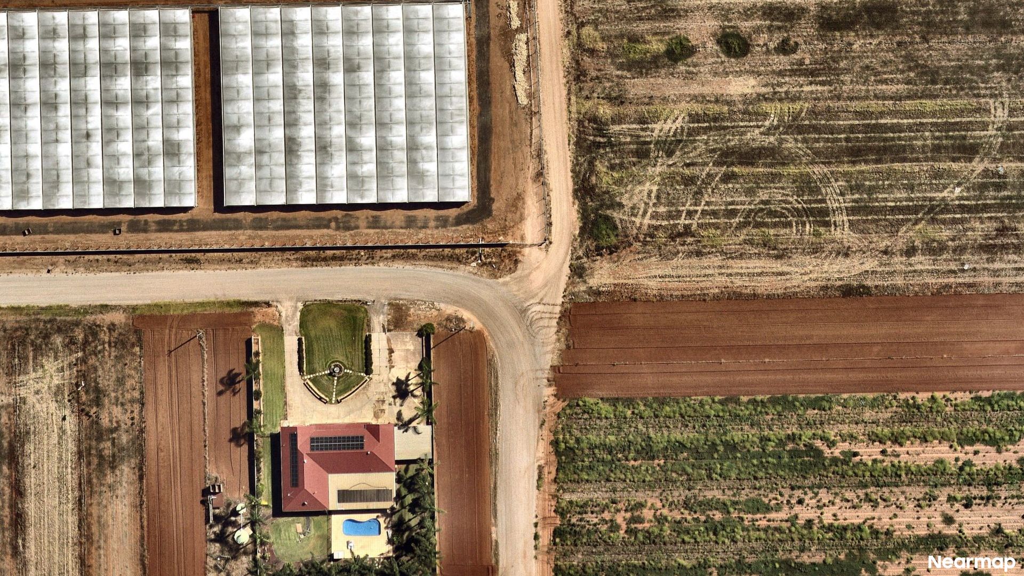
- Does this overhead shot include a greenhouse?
Yes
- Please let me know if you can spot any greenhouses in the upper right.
No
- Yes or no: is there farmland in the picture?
Yes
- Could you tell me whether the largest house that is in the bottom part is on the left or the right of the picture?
left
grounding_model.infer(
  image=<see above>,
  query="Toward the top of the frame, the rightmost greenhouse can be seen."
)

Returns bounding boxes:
[219,3,471,207]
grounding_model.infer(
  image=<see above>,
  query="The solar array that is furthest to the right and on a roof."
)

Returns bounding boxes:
[310,435,364,450]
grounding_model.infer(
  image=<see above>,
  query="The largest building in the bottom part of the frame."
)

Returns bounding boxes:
[280,424,395,512]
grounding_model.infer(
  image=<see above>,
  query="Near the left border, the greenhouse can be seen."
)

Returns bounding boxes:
[0,7,196,210]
